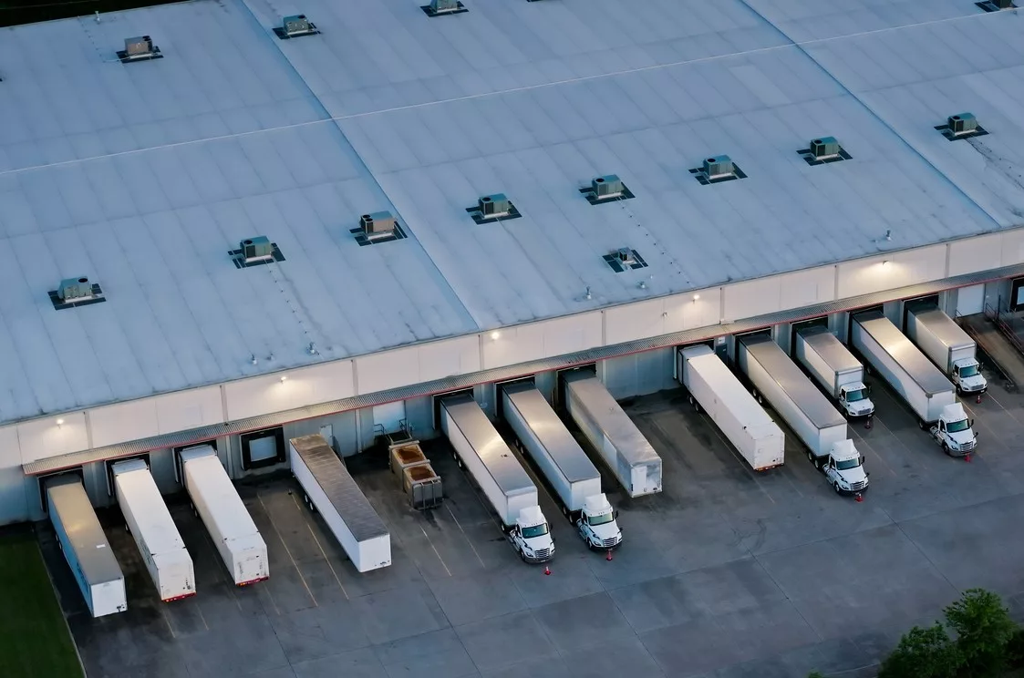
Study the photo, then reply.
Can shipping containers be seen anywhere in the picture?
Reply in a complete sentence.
Yes, a shipping container is visible in the scene.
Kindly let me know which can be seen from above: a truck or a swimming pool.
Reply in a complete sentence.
Looking from above, you can make out a truck.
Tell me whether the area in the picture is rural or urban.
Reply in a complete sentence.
The land in this view is best described as urban.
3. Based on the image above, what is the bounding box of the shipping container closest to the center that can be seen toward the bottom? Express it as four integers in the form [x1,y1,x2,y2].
[388,439,443,511]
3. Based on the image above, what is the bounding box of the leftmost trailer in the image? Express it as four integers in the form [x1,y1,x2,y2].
[47,472,127,617]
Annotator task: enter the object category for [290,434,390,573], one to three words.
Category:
trailer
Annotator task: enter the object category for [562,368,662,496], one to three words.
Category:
trailer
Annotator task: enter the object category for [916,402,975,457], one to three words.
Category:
truck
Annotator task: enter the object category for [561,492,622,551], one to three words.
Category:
truck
